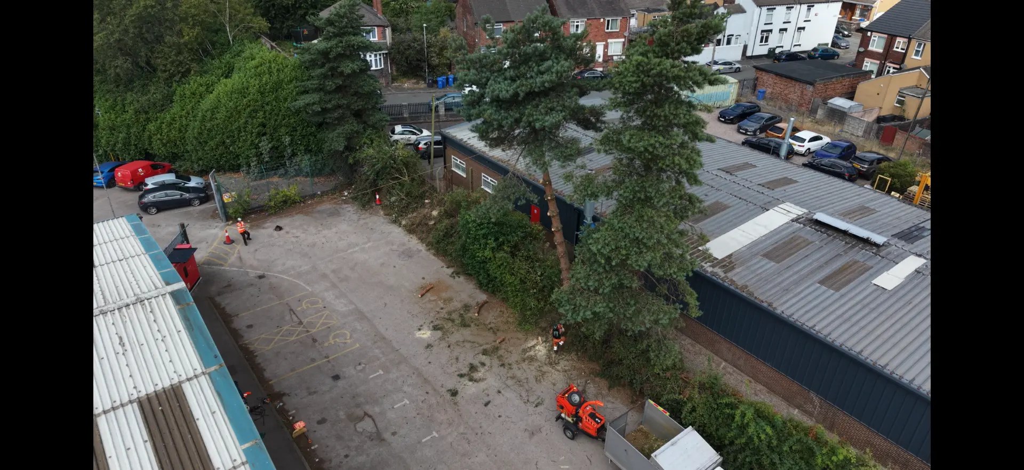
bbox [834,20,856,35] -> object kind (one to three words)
car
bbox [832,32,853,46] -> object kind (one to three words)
car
